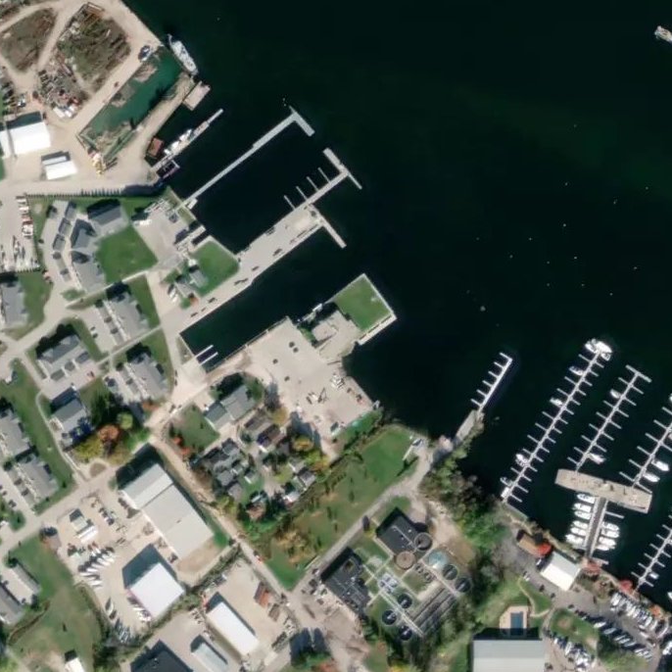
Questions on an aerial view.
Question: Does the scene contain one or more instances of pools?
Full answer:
Yes, the photo shows a pool.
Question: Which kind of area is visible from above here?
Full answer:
The picture captures a port.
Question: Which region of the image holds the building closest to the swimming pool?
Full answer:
The building closest to the swimming pool sits in the bottom right section of the image.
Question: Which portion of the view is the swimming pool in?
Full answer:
You can find the swimming pool in the bottom right area of the picture.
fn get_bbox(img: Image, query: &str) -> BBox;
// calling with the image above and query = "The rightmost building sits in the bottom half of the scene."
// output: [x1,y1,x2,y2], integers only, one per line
[540,551,581,592]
